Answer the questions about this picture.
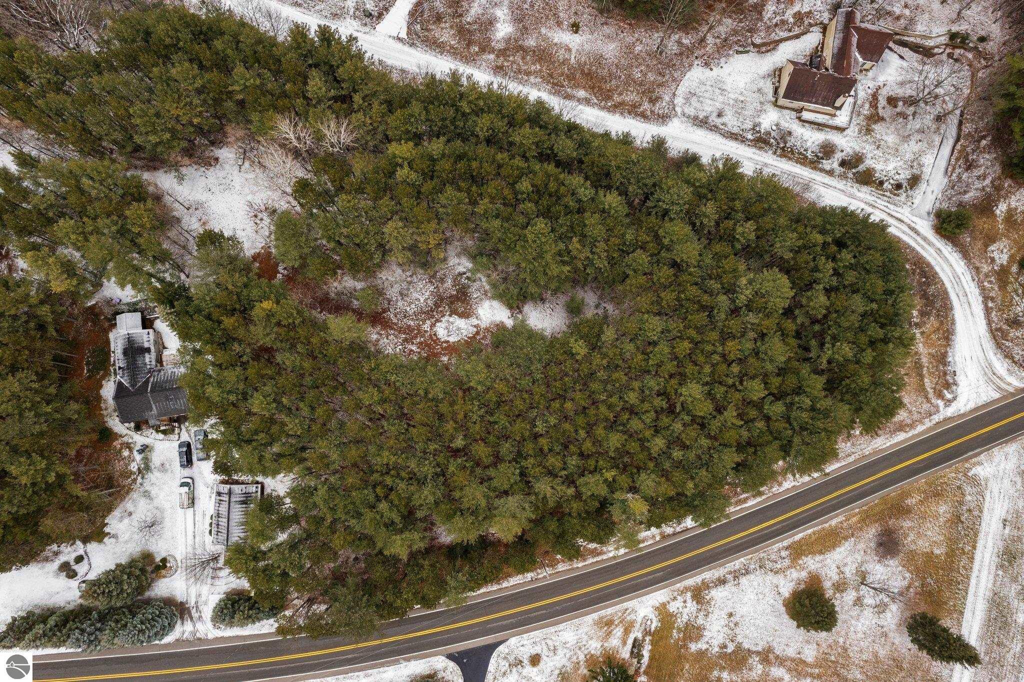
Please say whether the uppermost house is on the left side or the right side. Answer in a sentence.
The uppermost house sits on the right side.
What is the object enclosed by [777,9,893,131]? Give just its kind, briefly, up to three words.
house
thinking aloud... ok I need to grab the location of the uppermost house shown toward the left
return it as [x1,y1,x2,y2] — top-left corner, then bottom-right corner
[113,313,198,431]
